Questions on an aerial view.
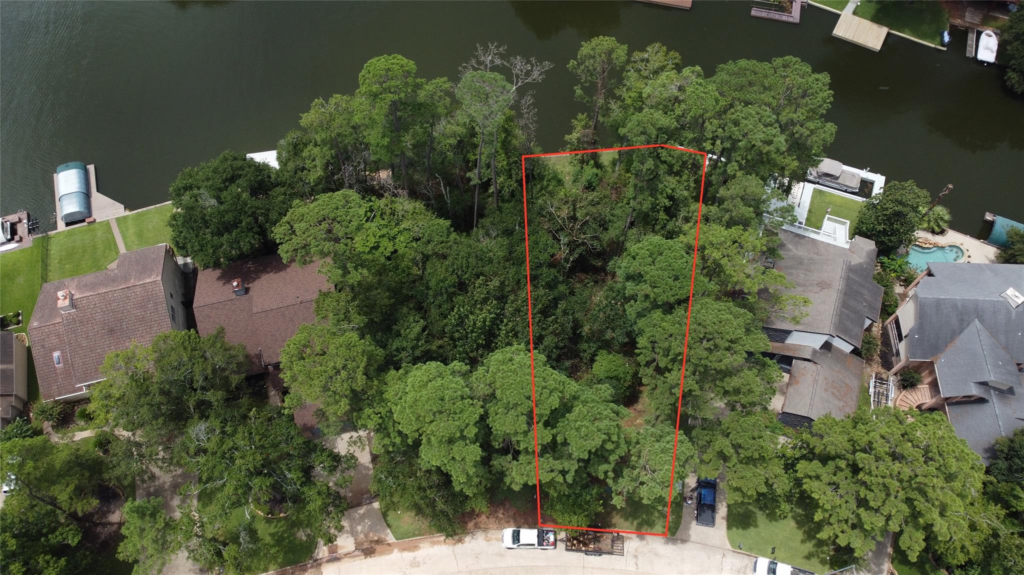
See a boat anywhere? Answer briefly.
Yes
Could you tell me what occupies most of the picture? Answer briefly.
trees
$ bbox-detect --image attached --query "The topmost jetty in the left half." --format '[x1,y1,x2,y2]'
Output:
[54,164,127,230]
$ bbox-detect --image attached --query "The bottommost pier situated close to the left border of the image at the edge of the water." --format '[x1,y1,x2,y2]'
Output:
[0,210,33,255]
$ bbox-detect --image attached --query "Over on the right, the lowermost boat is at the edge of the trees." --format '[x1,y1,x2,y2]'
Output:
[807,155,862,193]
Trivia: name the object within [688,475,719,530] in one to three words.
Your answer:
truck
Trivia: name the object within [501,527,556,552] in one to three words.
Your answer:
truck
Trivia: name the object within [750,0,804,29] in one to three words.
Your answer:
pier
